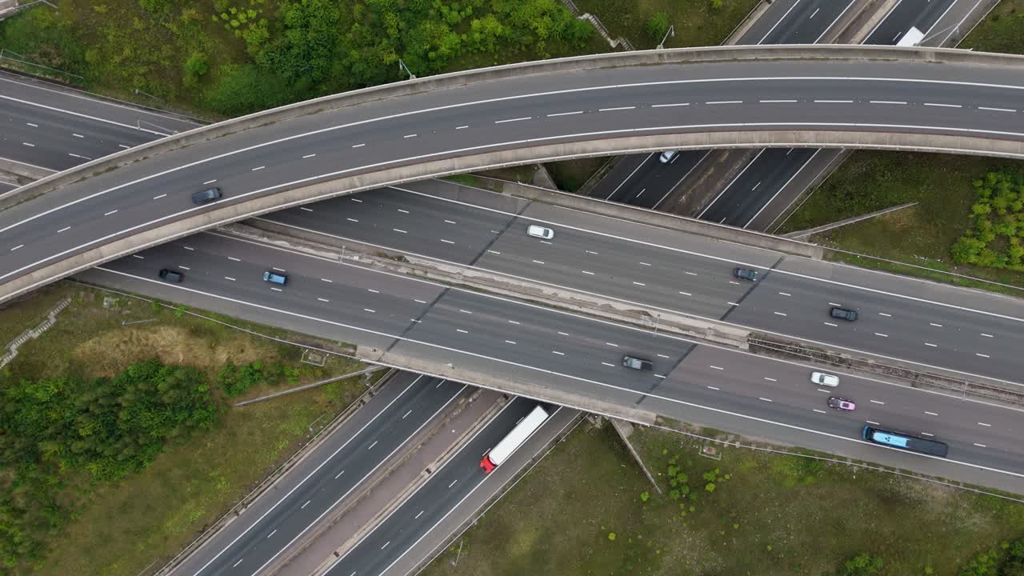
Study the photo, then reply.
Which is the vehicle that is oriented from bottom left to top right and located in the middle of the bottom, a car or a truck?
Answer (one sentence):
In the photo, the vehicle that is oriented from bottom left to top right and located in the middle of the bottom shows up as a truck.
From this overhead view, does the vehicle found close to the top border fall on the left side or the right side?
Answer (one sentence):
The vehicle found close to the top border sits on the right side.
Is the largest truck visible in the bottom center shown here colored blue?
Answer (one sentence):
No, from above the largest truck visible in the bottom center looks white.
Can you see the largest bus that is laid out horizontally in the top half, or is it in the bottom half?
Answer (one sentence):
It is in the bottom half that the largest bus that is laid out horizontally appears.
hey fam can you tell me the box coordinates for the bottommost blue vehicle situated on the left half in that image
[263,271,288,284]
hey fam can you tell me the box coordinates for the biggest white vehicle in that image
[477,402,549,474]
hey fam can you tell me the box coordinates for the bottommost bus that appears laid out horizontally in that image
[862,423,948,456]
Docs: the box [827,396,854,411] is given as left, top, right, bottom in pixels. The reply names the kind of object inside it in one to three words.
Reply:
car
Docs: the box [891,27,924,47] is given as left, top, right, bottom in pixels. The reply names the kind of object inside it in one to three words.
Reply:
vehicle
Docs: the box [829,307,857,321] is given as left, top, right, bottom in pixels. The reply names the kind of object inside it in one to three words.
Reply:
car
